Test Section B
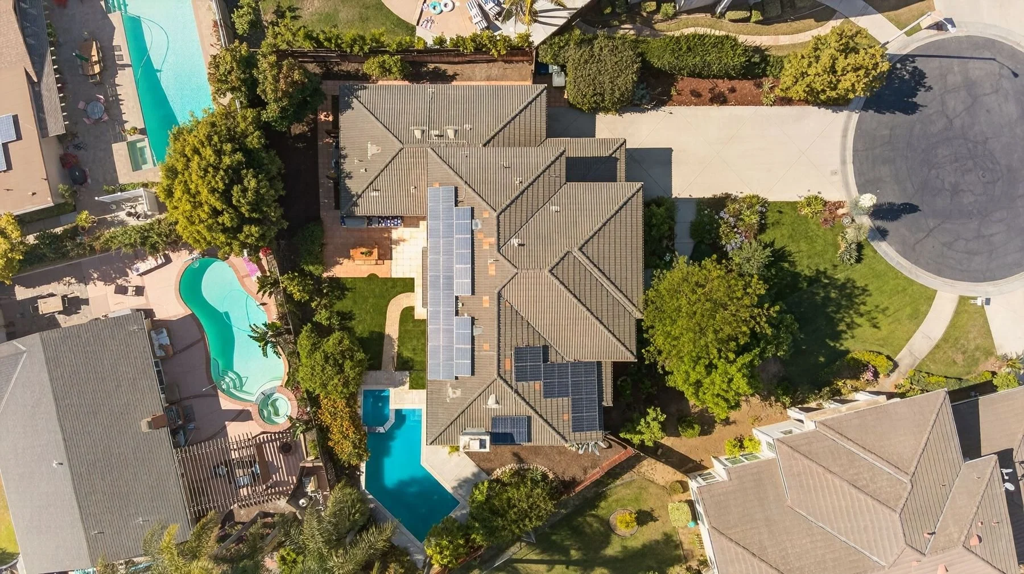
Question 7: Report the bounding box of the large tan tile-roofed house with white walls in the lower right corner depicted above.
[689,379,1024,574]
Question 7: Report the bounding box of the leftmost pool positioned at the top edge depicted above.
[106,0,222,166]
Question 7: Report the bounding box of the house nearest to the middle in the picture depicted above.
[339,83,644,453]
